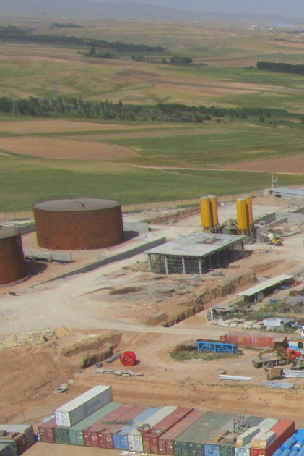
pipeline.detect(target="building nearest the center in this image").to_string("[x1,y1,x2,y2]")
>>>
[146,232,245,275]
